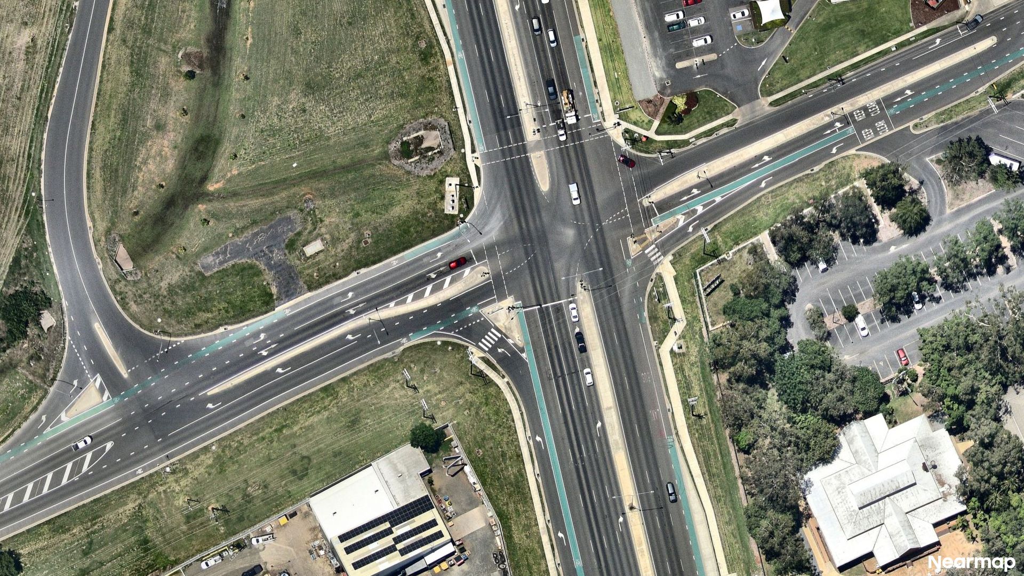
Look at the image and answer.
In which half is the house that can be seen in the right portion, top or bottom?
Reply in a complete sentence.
The bottom half of the photo is where the house that can be seen in the right portion is.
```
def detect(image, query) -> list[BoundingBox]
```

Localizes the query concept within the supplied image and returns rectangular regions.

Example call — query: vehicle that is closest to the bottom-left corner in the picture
[70,435,92,450]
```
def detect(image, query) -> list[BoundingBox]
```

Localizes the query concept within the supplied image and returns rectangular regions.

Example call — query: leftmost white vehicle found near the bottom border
[200,553,226,568]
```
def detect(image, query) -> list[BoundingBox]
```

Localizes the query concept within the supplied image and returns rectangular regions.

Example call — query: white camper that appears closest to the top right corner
[988,152,1016,172]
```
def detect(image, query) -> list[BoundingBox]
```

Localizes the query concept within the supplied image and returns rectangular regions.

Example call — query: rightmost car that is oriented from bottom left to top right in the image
[964,14,981,33]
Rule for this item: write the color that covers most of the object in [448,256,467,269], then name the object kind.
red vehicle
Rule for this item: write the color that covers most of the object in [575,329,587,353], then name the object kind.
black vehicle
